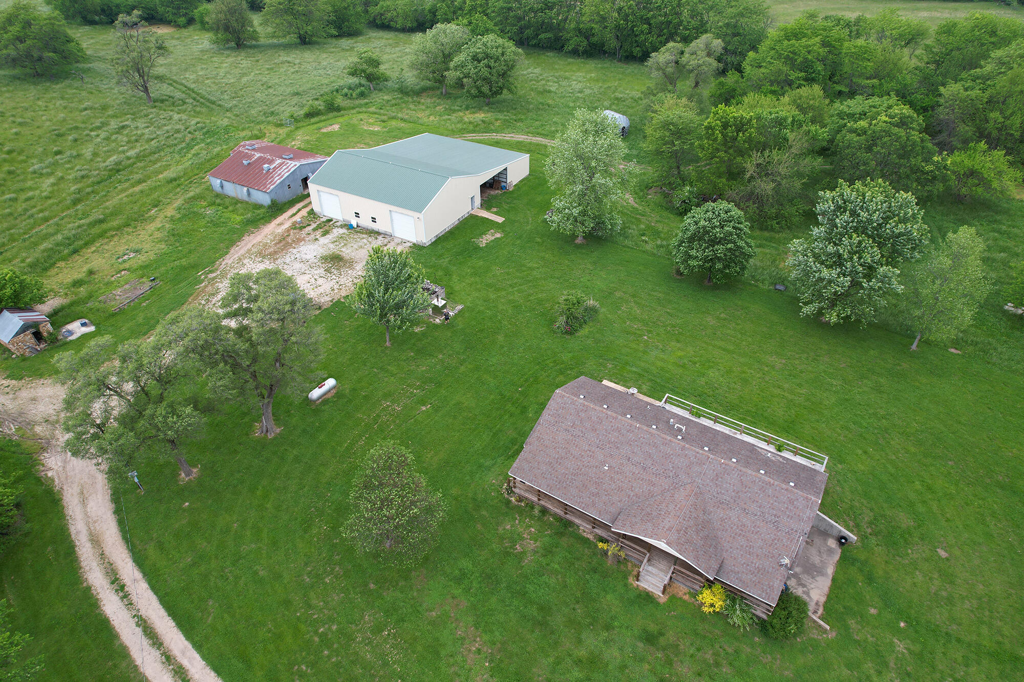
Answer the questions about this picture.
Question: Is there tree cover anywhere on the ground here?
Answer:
Yes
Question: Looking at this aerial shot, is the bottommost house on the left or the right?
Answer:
right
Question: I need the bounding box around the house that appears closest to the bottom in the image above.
[508,376,832,625]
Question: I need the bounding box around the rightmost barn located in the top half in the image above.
[307,132,531,246]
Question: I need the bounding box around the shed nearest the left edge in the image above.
[0,309,58,359]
